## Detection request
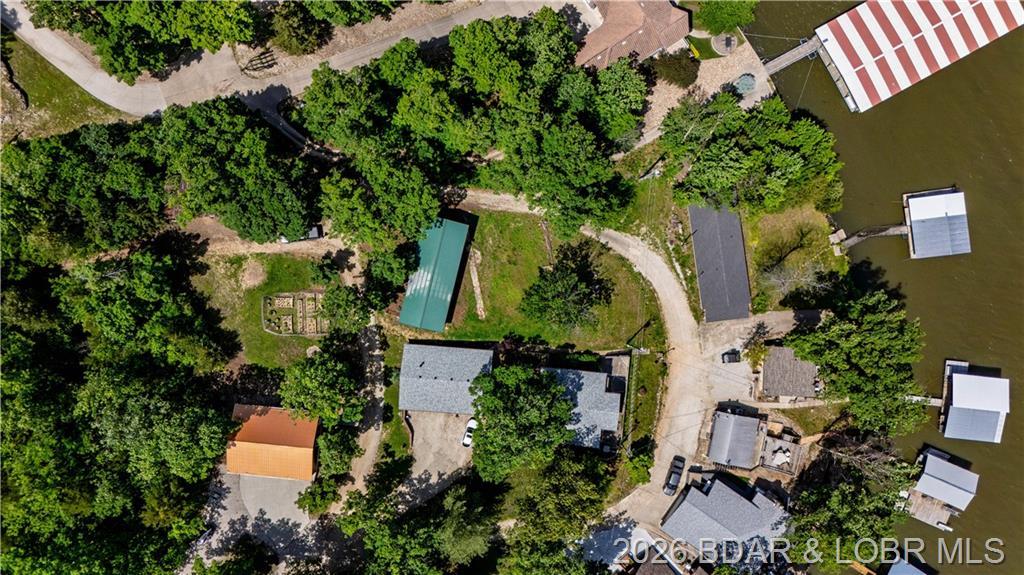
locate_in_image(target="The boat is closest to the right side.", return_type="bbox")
[944,506,963,518]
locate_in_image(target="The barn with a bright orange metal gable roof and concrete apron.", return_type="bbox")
[225,404,322,480]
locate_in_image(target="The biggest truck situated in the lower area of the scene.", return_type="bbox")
[664,455,688,497]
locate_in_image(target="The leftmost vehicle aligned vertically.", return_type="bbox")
[460,418,477,450]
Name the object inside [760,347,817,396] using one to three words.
house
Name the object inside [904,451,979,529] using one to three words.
pier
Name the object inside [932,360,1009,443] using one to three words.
pier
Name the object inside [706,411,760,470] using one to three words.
house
